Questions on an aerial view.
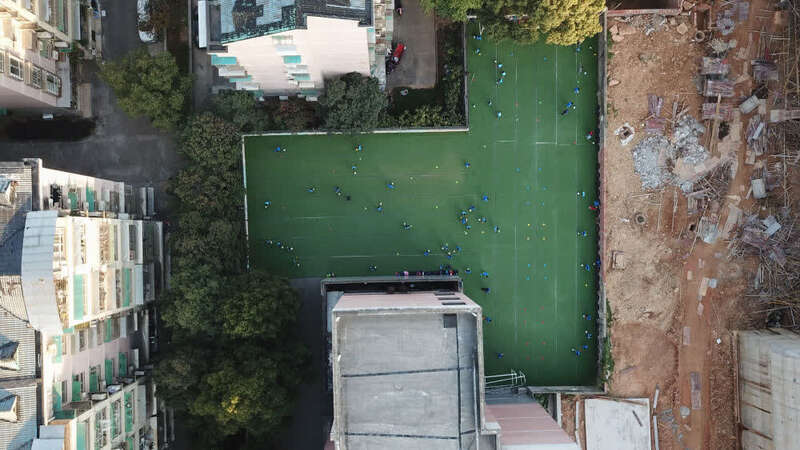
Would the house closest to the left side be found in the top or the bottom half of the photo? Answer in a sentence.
Seen from above, the house closest to the left side lies in the top half of the view.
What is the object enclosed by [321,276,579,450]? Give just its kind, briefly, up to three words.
building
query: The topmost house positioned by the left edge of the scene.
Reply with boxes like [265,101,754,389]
[0,0,74,107]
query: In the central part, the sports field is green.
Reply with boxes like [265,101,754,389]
[248,0,593,392]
